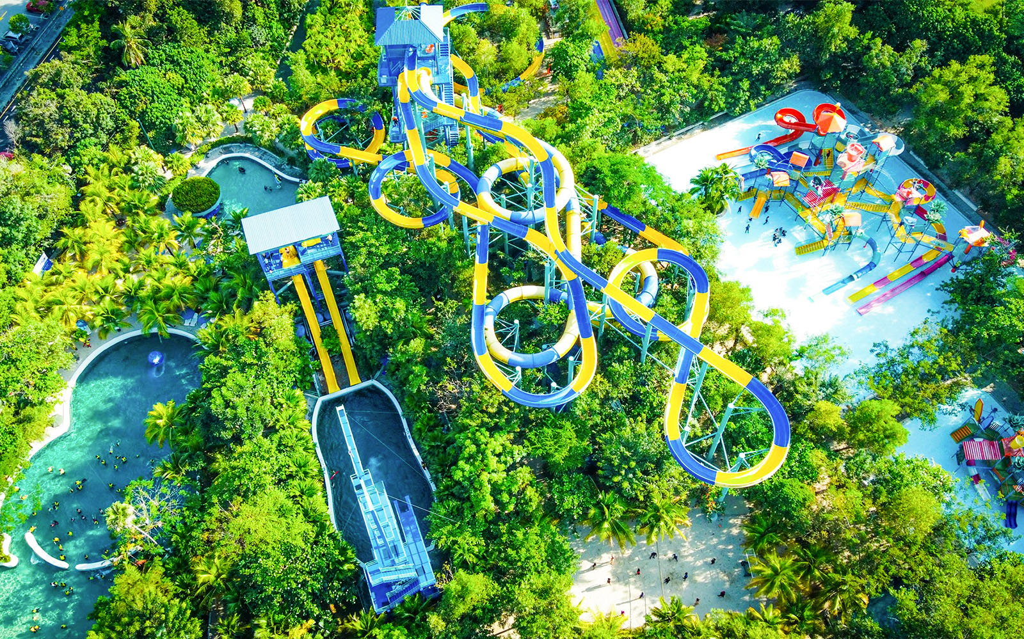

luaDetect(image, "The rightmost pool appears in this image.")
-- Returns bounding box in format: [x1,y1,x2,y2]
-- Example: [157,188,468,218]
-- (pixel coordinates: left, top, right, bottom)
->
[315,384,455,624]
